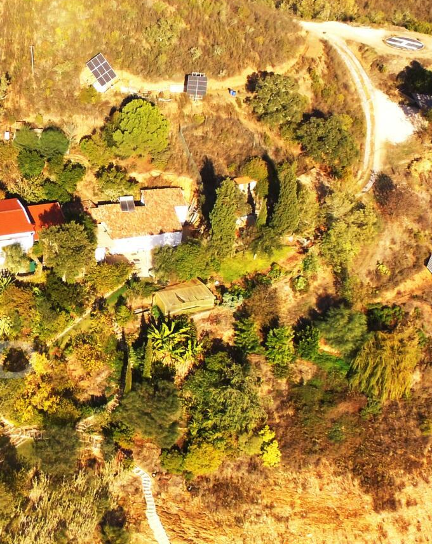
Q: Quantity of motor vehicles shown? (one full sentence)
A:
No motor vehicles are visible.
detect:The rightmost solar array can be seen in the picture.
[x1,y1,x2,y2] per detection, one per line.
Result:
[187,72,208,103]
